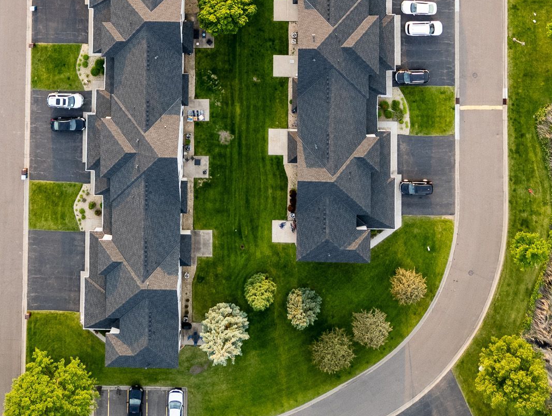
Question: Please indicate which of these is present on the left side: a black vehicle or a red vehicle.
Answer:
black vehicle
